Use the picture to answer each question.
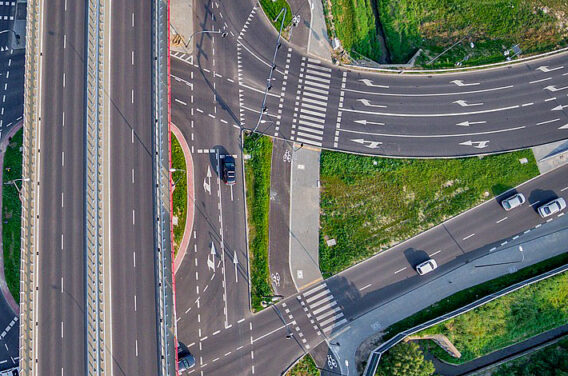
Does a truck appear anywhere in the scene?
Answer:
No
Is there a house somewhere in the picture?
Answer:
No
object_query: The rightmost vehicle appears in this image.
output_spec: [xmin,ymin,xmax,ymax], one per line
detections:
[535,198,566,219]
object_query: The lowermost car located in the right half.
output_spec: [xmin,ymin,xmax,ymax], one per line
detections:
[413,258,438,277]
